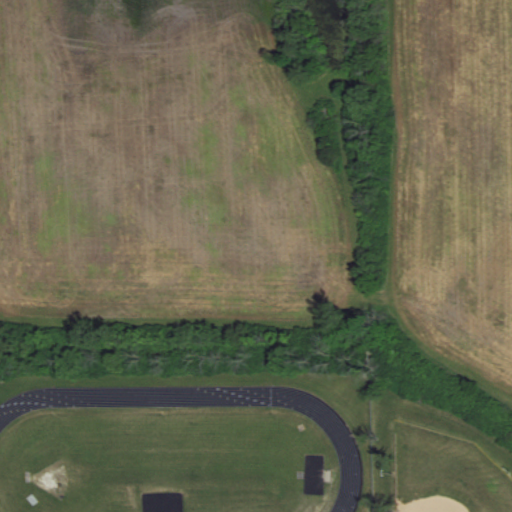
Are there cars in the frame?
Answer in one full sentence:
No, I can't see a single car in this photo.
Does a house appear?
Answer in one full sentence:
No, I can't see a single house in this photo.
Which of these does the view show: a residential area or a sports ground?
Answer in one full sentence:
The picture captures a sports ground.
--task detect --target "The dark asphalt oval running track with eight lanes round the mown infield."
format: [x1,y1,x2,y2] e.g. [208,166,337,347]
[0,386,363,512]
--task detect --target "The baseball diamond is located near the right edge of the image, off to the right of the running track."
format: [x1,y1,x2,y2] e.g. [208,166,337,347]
[396,421,512,512]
